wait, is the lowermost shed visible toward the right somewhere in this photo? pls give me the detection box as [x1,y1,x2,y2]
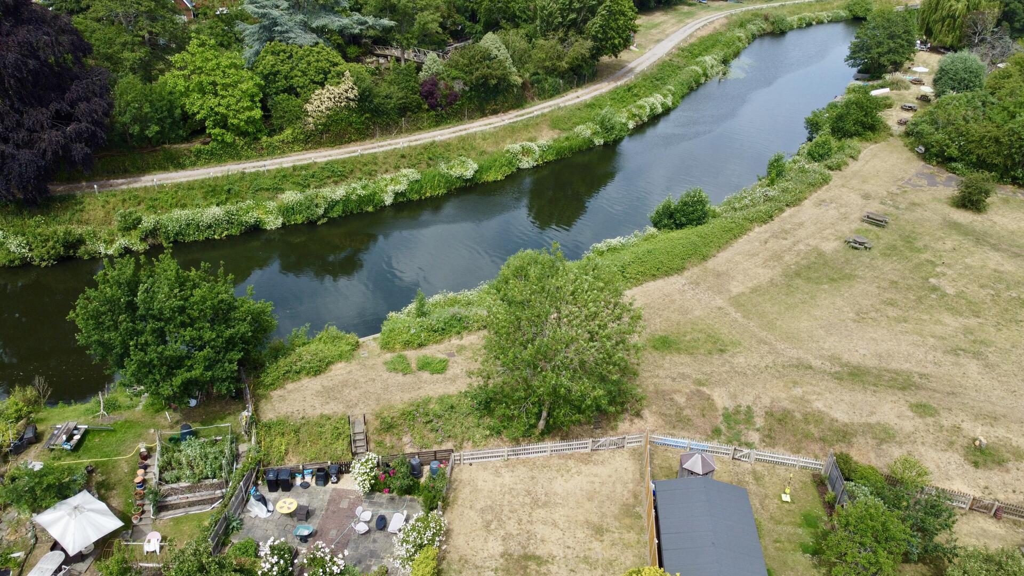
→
[652,474,771,576]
